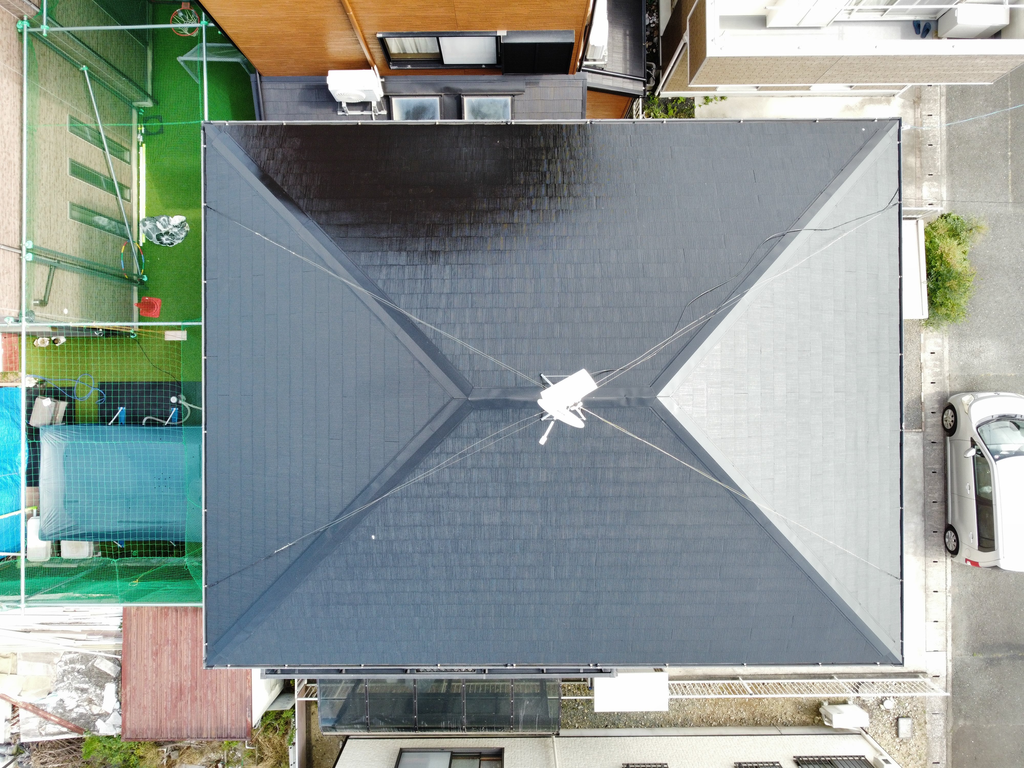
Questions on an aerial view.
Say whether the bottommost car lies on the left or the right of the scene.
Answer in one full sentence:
The bottommost car sits on the right side.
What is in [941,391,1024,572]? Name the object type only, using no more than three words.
car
